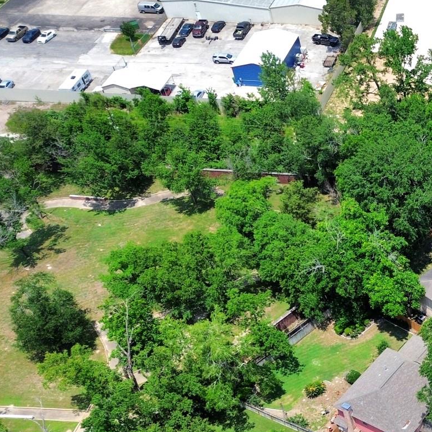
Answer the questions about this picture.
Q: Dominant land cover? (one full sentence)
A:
For the most part, this view shows trees.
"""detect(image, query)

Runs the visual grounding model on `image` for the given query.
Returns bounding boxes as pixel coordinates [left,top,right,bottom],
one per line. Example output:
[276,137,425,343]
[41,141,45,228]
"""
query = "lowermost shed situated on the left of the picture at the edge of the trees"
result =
[102,66,178,98]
